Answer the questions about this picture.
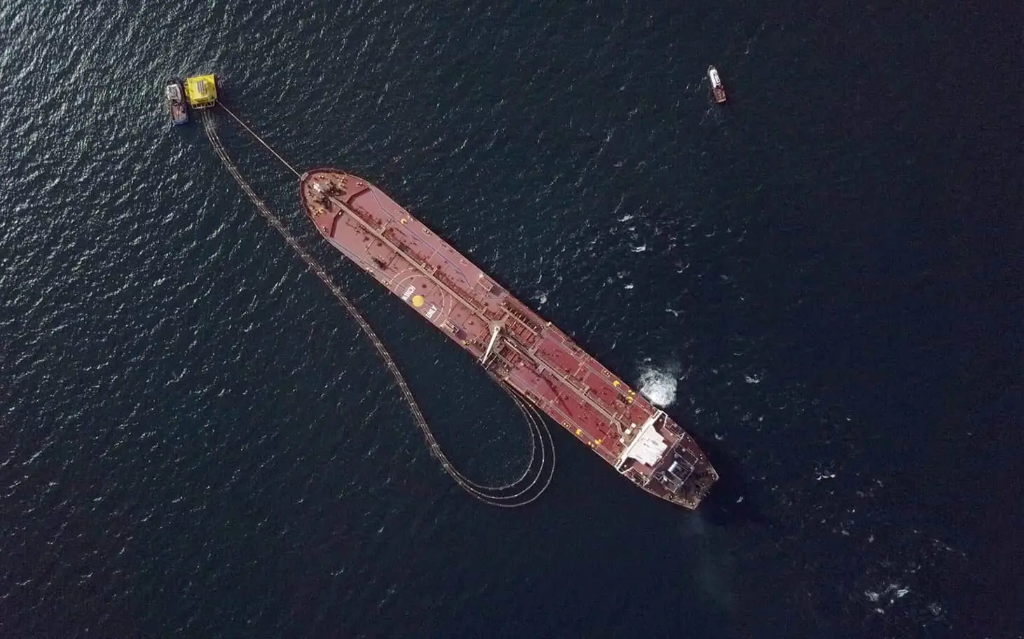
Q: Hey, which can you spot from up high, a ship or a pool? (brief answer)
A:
ship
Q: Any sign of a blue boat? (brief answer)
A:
No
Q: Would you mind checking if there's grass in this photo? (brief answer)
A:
No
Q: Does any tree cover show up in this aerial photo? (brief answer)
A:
No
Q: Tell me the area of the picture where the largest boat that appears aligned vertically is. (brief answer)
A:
top left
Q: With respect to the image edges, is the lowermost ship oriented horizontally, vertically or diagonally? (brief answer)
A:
diagonally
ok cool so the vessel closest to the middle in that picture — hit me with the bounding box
[299,169,719,510]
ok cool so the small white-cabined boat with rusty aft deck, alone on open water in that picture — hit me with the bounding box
[709,65,726,102]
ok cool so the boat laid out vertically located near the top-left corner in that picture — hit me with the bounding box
[167,76,188,123]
